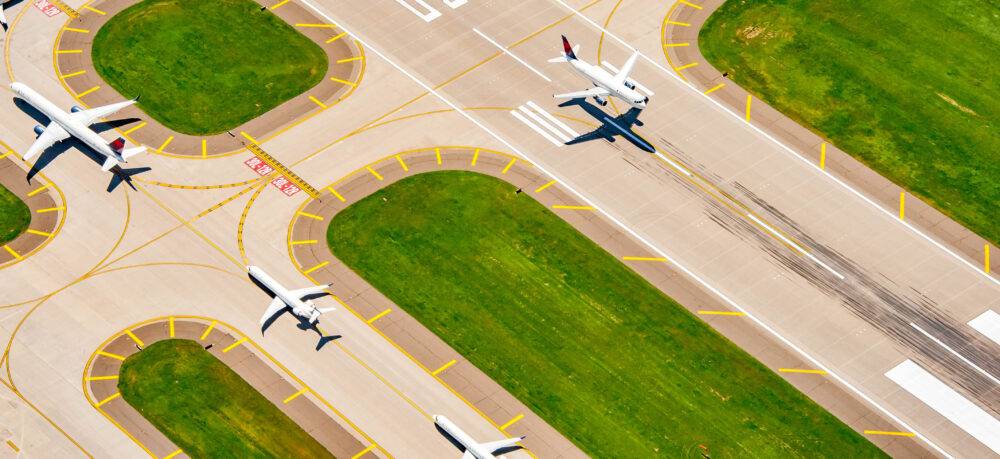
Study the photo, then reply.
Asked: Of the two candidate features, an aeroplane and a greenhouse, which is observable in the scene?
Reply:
aeroplane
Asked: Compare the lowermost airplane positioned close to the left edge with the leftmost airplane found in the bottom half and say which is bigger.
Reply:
the lowermost airplane positioned close to the left edge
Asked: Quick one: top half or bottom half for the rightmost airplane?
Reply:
top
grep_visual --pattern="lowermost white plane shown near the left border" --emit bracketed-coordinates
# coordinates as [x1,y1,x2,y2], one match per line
[10,84,147,170]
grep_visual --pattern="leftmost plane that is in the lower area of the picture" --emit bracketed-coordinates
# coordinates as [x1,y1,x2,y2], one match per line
[247,268,336,325]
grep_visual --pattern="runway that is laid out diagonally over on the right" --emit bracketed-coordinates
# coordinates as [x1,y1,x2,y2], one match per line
[287,0,1000,459]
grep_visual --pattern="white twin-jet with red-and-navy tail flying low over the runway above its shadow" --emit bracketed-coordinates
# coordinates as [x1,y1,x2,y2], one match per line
[551,37,646,111]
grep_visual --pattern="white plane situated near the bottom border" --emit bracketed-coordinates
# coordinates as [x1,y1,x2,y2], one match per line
[434,417,527,459]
